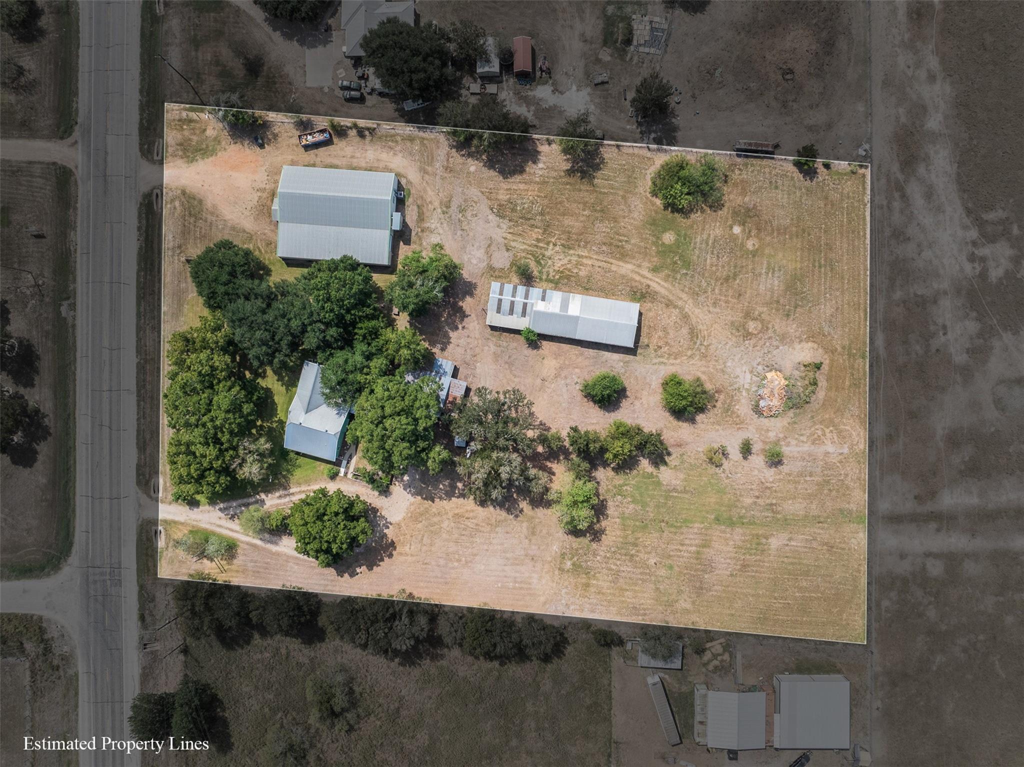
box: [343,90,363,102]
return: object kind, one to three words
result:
vehicle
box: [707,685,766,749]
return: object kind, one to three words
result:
barn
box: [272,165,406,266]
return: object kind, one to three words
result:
barn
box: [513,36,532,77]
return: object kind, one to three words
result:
shed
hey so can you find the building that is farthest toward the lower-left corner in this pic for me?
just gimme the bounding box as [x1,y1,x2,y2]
[284,360,361,462]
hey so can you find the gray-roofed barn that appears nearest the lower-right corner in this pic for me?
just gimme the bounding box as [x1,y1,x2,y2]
[772,672,851,749]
